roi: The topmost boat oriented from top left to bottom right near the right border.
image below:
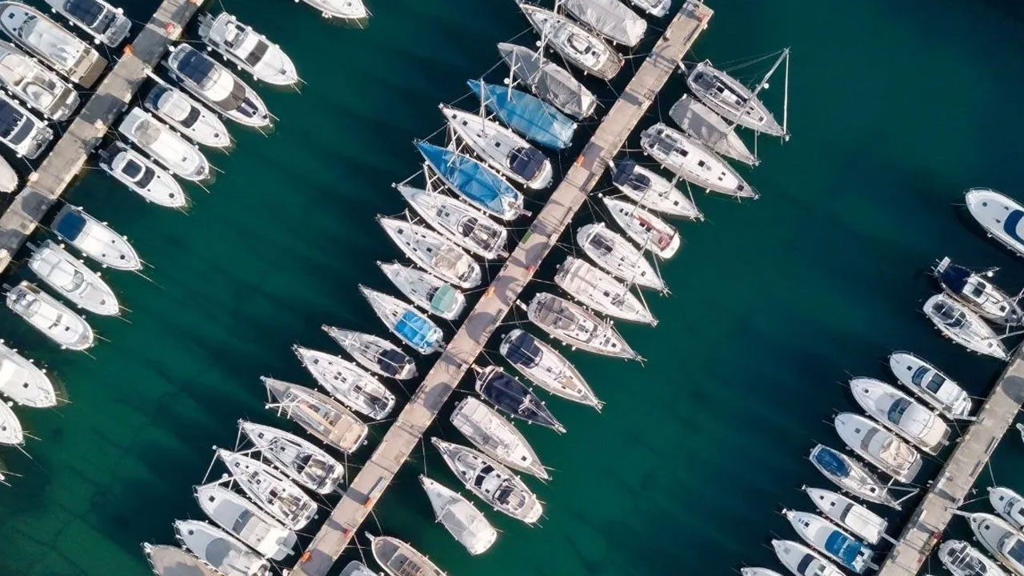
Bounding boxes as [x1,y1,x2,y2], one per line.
[961,190,1024,263]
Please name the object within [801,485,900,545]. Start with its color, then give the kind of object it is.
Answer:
white boat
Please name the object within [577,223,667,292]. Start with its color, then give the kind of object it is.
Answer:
white boat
